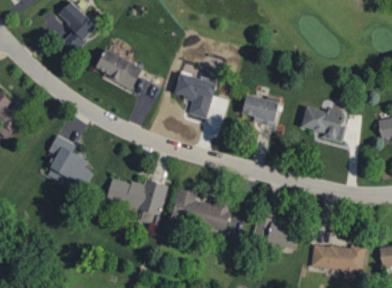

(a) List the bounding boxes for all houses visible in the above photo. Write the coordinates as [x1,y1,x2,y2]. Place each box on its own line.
[47,132,96,184]
[300,104,349,146]
[173,186,240,232]
[312,243,366,270]
[104,177,167,224]
[379,246,392,264]
[378,118,392,140]
[95,51,144,91]
[250,220,298,255]
[244,93,280,131]
[0,93,16,139]
[175,73,217,122]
